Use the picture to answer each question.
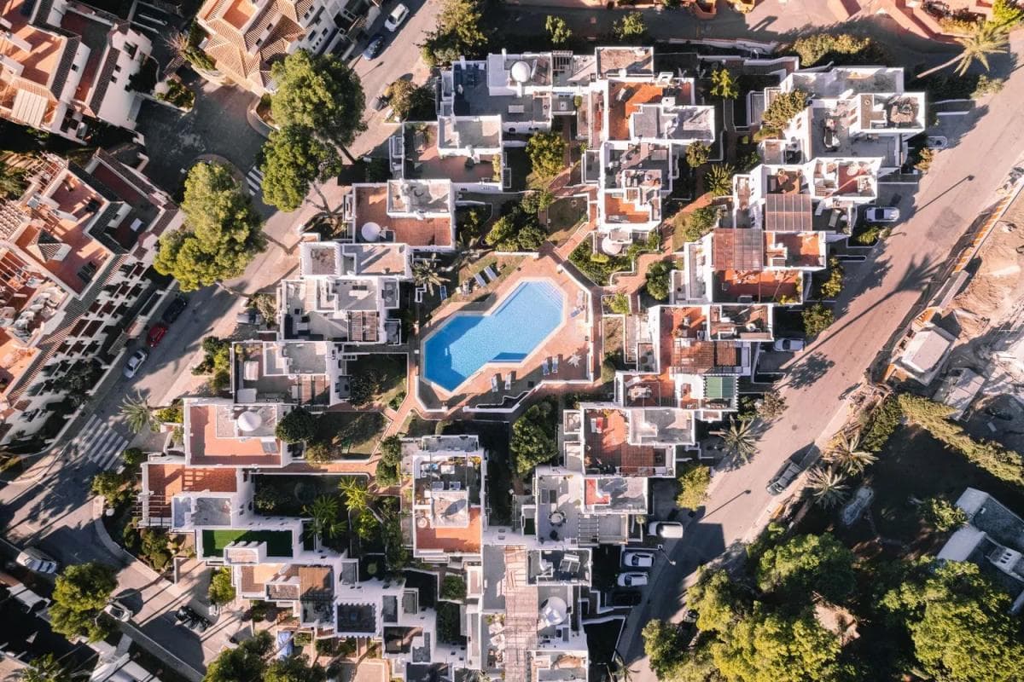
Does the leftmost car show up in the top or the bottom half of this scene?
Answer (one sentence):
Seen from above, the leftmost car lies in the bottom half of the view.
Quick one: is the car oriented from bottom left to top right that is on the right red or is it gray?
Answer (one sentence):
The car oriented from bottom left to top right that is on the right is gray.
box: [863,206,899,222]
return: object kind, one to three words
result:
car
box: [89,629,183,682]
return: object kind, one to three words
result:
house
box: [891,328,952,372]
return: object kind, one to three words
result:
building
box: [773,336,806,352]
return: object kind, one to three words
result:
car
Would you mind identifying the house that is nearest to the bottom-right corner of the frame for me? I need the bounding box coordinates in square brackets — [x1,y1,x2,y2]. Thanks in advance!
[915,479,1024,620]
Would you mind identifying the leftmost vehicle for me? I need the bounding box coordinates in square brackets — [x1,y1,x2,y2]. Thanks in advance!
[19,546,56,573]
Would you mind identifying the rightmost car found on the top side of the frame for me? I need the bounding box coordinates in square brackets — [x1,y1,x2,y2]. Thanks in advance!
[920,134,949,150]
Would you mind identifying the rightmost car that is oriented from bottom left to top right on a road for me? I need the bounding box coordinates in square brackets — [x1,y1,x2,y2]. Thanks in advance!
[762,460,801,494]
